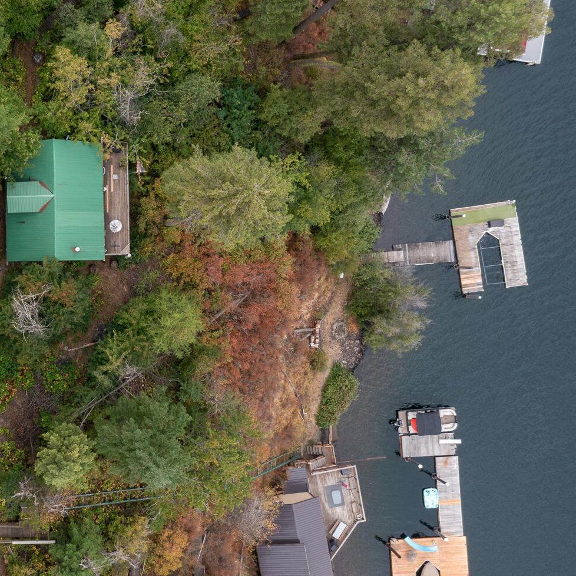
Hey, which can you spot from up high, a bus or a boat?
boat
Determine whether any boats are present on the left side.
No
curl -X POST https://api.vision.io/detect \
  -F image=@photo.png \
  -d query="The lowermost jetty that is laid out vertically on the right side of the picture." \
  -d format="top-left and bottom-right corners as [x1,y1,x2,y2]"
[433,455,464,535]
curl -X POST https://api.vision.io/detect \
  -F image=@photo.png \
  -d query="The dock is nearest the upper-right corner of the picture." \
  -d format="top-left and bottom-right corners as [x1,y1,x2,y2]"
[473,0,550,65]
